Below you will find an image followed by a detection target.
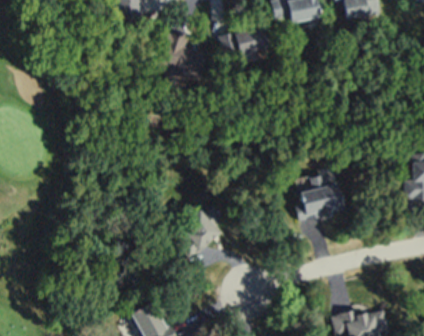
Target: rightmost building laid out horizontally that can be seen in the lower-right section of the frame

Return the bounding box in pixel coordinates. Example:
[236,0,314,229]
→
[328,308,388,336]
